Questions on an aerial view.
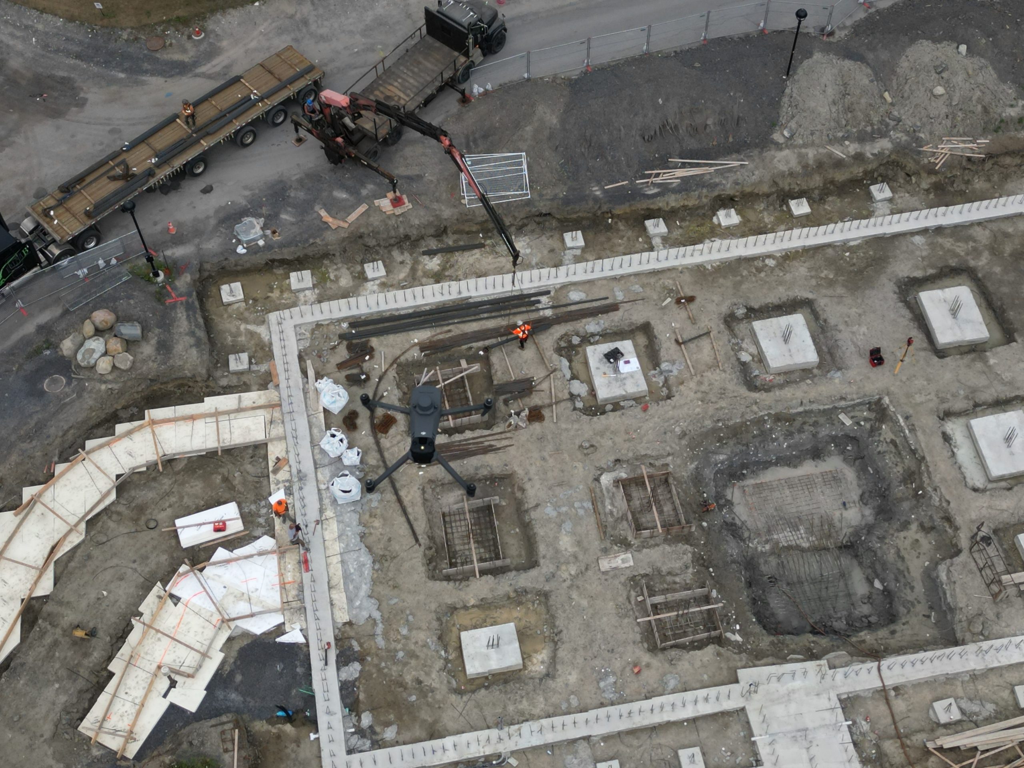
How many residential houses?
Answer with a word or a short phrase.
0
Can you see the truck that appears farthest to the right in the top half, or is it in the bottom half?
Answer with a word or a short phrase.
top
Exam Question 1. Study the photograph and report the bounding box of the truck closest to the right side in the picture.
[294,0,524,287]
